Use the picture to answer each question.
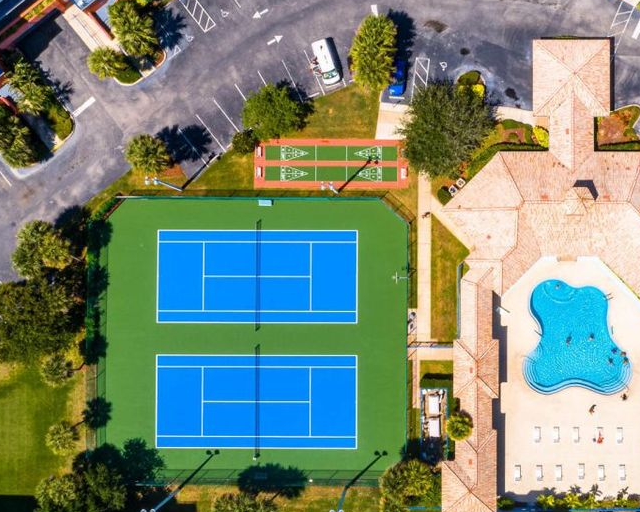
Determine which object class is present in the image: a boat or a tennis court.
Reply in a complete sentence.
It is a tennis court that can be seen here.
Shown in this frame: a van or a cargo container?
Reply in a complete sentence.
There is a van in the scene.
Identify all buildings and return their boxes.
[0,0,111,89]
[441,39,640,512]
